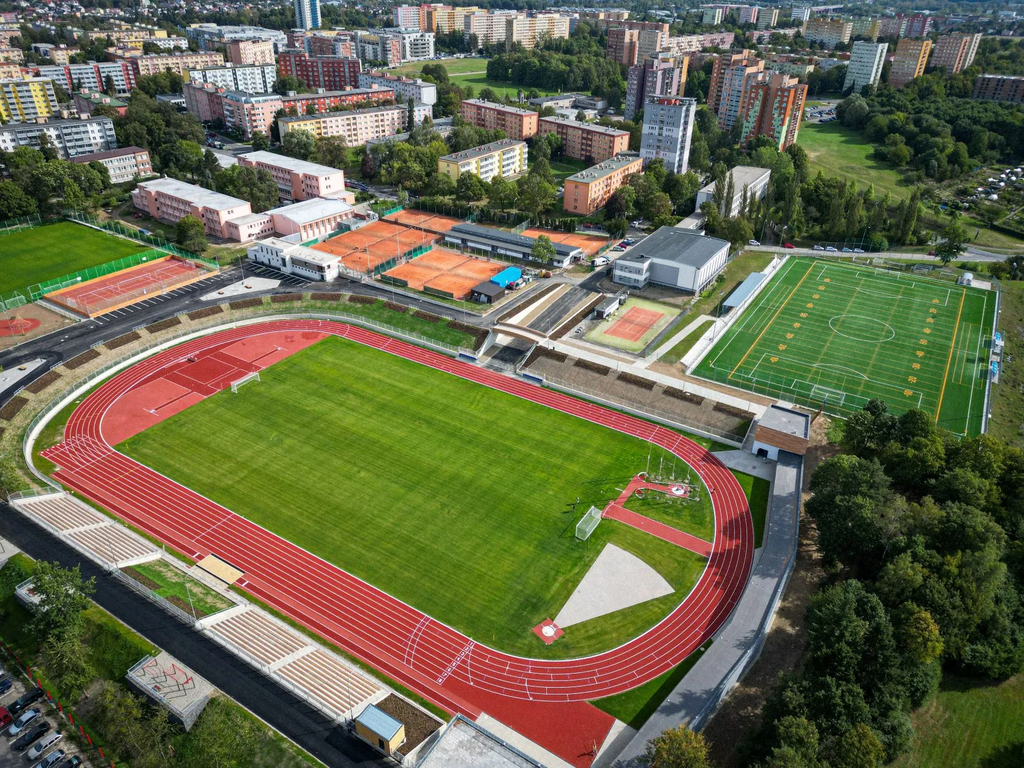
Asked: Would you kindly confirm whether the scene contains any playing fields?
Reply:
Yes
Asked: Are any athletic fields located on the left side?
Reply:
Yes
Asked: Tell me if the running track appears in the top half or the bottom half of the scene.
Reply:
bottom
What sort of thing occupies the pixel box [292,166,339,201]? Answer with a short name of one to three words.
building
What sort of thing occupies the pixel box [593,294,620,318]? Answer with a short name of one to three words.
shed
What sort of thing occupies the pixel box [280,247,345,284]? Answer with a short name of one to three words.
building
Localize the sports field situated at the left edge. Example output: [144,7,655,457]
[0,209,150,308]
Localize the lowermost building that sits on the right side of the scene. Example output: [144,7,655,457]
[755,404,819,459]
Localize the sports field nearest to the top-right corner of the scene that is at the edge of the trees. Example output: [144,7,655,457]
[688,256,997,438]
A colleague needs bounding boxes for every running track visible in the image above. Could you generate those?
[37,319,754,768]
